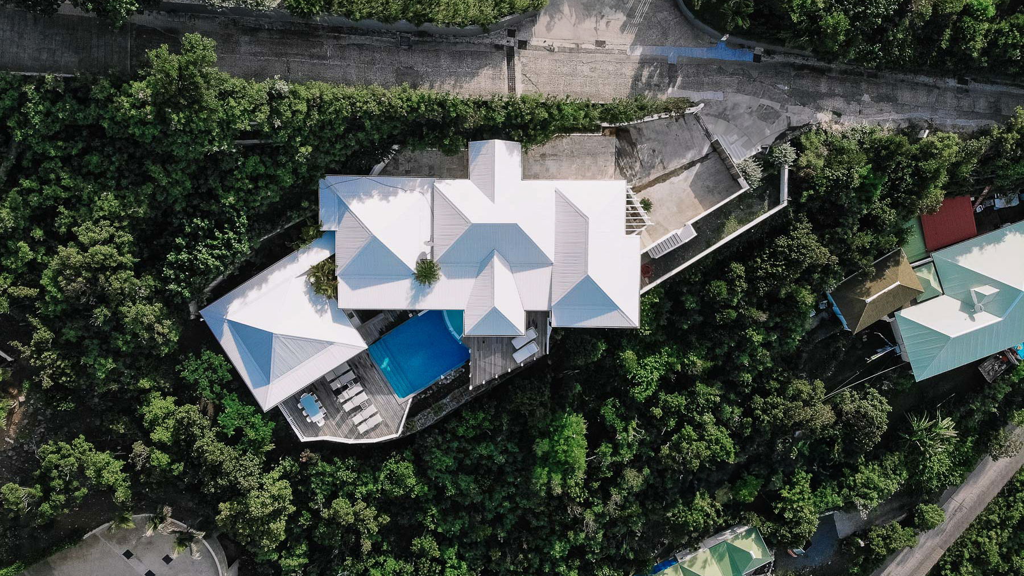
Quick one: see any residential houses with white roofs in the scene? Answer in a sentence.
Yes, looking at the shot, I can spot a residential house with a white roof.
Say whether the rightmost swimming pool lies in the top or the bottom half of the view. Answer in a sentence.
You can find the rightmost swimming pool in the bottom half.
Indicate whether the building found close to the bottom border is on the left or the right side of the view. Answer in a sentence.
You can find the building found close to the bottom border on the right side of the picture.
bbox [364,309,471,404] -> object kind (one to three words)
swimming pool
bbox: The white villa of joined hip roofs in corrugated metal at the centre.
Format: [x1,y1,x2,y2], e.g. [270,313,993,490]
[317,140,642,338]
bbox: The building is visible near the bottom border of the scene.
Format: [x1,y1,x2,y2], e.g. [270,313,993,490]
[653,523,773,576]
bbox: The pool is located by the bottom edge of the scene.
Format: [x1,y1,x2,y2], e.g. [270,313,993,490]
[645,552,677,576]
